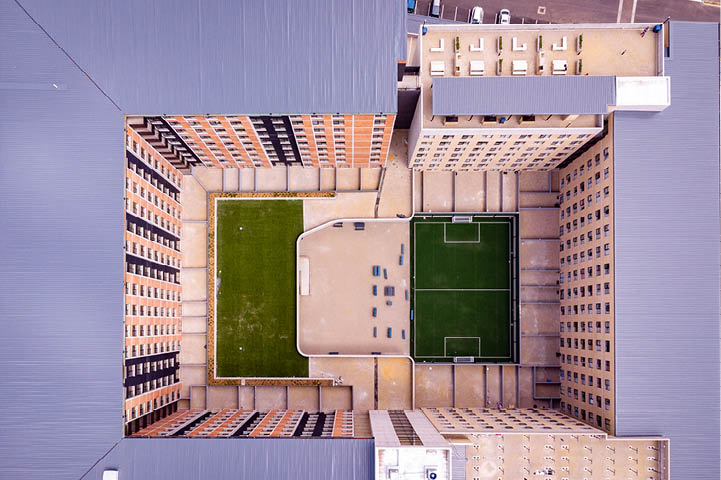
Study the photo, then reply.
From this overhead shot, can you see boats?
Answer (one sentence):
No, this view has no boat in it.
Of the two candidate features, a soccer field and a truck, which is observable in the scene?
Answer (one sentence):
This aerial view contains a soccer field.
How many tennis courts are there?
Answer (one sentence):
The picture shows no tennis courts.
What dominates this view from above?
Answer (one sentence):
The bulk of the photo consists of buildings.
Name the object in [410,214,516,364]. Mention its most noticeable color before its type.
green soccer field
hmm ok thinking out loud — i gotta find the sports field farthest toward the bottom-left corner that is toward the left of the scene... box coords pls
[213,198,335,384]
